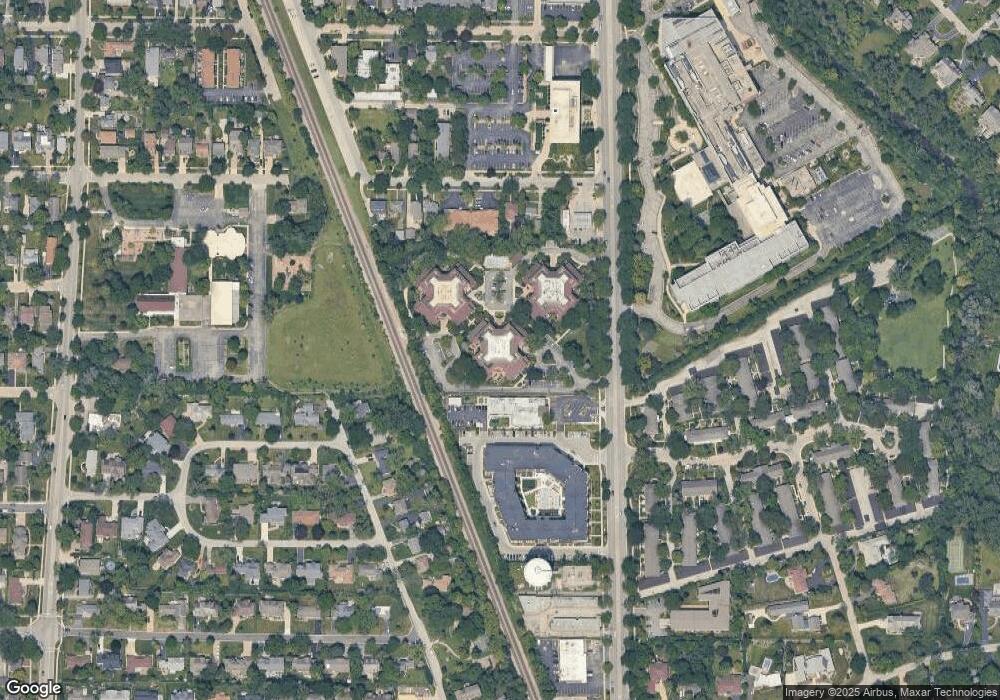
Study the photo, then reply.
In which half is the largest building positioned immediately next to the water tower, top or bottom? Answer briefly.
bottom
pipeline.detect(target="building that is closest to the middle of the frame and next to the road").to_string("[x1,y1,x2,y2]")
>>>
[469,314,531,379]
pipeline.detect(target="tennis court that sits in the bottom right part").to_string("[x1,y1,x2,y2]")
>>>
[947,538,965,573]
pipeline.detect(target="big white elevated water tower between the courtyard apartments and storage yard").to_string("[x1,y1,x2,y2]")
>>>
[523,556,553,592]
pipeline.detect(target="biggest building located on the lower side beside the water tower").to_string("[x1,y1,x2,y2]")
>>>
[484,442,590,546]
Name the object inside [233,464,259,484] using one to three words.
house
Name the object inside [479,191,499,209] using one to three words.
house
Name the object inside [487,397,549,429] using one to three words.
building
